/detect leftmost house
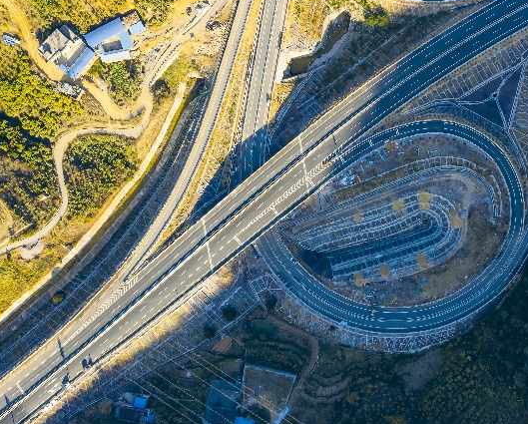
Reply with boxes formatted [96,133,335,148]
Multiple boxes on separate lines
[37,25,96,79]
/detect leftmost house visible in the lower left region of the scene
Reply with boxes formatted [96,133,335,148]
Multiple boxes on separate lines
[113,395,155,424]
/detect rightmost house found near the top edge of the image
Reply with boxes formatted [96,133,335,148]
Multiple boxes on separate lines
[83,11,145,62]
